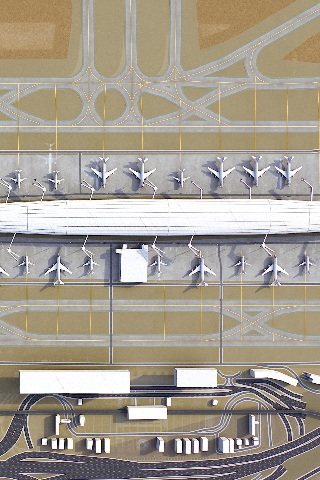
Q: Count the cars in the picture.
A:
zero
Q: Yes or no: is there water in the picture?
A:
No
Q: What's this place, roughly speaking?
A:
airport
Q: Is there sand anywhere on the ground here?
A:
Yes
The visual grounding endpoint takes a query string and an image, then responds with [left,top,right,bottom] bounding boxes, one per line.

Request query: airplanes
[300,255,317,273]
[150,255,168,274]
[190,255,218,287]
[18,254,35,273]
[173,169,191,187]
[276,155,304,187]
[48,170,65,189]
[235,255,252,274]
[210,156,237,187]
[263,255,291,287]
[0,265,9,276]
[10,169,27,188]
[130,157,157,188]
[91,156,118,187]
[83,255,100,274]
[244,155,271,187]
[46,254,73,285]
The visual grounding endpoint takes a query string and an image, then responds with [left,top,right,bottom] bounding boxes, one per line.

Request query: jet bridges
[186,235,202,256]
[296,178,313,202]
[0,177,12,203]
[7,233,20,261]
[143,178,158,199]
[32,179,47,202]
[149,236,165,257]
[81,235,95,258]
[188,181,203,199]
[257,234,274,256]
[236,179,252,199]
[80,179,95,199]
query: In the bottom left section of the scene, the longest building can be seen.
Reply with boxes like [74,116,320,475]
[19,368,130,394]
